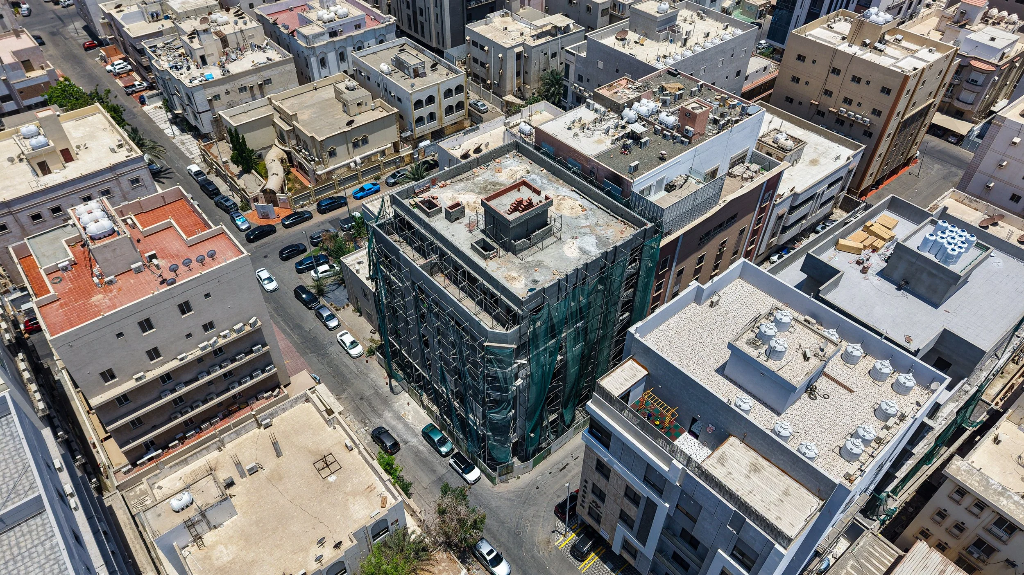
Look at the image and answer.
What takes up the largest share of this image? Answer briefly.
buildings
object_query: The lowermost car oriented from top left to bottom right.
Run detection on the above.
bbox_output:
[472,535,512,575]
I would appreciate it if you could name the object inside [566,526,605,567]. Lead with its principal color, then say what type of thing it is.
black car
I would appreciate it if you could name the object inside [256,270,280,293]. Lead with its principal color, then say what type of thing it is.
white car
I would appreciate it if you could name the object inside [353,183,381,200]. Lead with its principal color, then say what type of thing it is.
blue car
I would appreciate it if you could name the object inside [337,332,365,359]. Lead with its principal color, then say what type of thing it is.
white car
